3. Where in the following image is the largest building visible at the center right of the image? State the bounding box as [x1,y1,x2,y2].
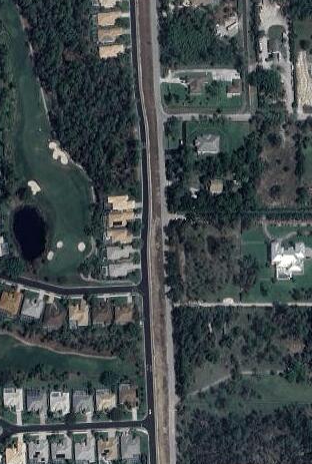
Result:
[272,239,305,277]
